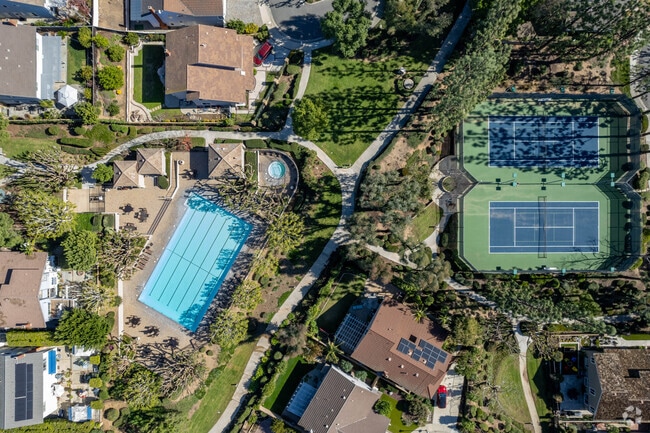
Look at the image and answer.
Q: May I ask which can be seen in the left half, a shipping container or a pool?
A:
pool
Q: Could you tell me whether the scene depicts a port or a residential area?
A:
residential area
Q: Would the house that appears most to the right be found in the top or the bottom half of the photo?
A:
bottom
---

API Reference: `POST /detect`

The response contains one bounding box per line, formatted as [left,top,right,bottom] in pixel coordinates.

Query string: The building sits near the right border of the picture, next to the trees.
[580,348,650,421]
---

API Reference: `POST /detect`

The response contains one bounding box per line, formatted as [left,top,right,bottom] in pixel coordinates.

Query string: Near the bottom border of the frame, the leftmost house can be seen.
[0,347,57,429]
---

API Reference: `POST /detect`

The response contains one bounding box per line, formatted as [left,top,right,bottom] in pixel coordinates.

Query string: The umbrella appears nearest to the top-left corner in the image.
[60,86,78,107]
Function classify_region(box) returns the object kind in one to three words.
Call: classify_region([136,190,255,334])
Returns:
swimming pool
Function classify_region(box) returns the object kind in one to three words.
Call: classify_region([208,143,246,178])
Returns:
building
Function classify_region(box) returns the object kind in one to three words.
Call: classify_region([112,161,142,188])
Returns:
building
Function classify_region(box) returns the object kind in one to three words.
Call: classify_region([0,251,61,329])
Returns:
house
